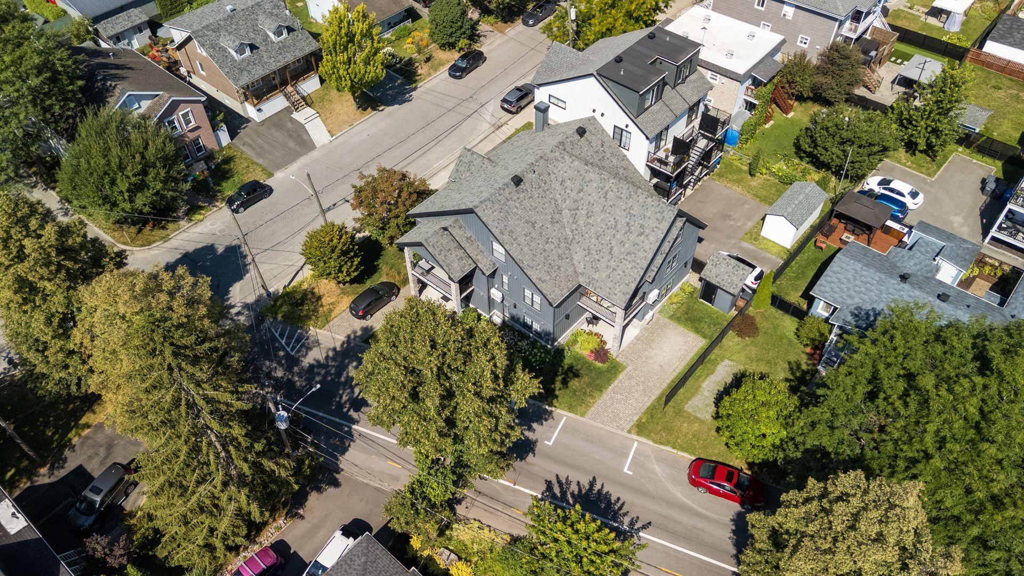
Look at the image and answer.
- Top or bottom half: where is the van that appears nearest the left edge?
bottom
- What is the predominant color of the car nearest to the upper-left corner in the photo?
black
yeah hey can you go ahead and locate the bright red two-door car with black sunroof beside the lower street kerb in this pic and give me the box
[690,460,768,510]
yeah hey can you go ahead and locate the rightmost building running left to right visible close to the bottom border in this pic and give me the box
[324,532,426,576]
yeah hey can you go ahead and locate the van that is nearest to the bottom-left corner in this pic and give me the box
[67,464,142,532]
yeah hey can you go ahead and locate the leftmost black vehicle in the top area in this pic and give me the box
[224,176,270,211]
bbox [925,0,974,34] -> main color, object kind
white gazebo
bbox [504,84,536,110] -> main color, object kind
gray car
